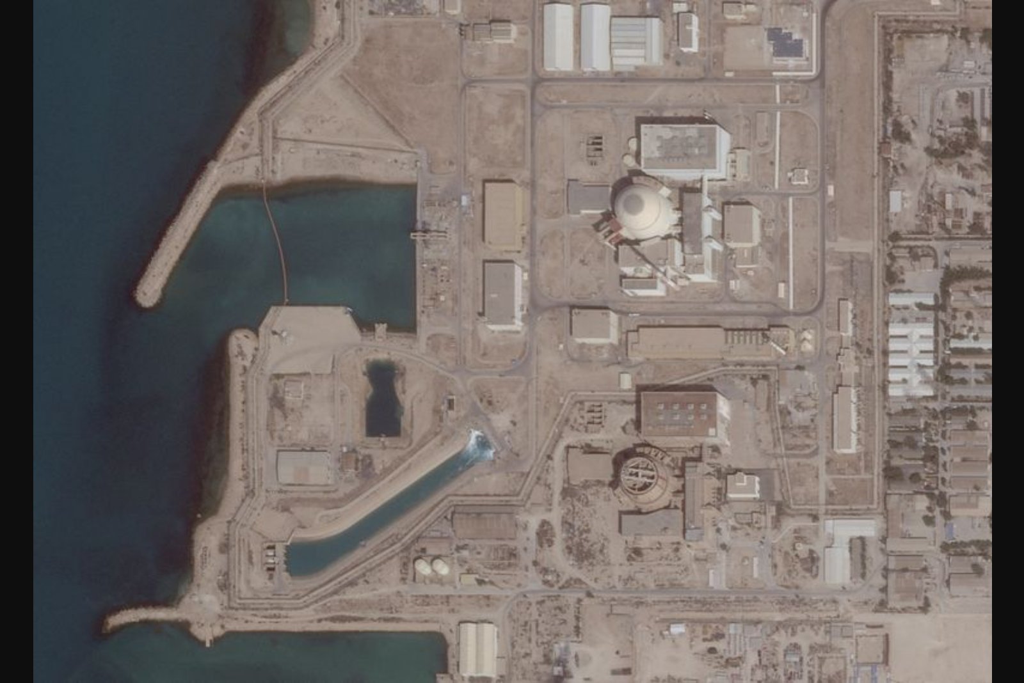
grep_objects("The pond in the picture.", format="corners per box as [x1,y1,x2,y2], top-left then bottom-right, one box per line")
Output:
[365,360,403,448]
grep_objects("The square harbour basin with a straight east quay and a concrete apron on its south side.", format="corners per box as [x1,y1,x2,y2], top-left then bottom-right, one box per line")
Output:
[259,306,363,373]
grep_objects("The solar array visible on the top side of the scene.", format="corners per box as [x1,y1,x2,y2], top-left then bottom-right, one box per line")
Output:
[767,27,802,56]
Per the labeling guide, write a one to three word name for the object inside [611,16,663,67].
building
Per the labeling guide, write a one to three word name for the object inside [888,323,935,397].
building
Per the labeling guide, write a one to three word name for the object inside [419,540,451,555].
shed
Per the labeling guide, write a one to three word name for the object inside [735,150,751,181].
house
